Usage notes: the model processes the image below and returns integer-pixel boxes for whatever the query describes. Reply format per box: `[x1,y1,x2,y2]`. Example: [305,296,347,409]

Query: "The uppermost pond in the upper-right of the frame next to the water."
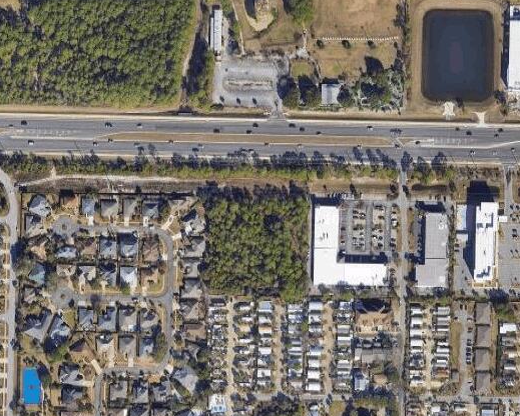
[422,10,495,103]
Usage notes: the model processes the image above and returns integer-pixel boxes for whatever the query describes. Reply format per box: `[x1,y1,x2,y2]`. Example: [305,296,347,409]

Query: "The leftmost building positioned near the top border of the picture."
[210,10,223,54]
